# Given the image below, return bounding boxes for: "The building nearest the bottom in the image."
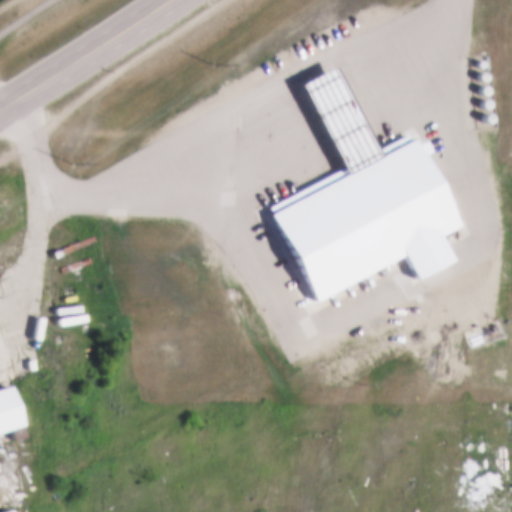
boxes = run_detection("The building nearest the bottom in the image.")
[0,386,29,436]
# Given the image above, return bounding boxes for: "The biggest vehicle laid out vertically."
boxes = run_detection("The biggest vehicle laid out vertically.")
[34,316,49,348]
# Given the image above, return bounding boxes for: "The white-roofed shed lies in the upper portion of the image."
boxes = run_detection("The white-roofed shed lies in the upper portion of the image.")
[266,68,464,300]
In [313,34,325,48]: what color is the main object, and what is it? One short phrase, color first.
white vehicle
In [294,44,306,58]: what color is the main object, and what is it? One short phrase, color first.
white vehicle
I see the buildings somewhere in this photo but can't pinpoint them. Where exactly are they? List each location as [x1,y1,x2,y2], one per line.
[266,68,464,300]
[0,386,29,436]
